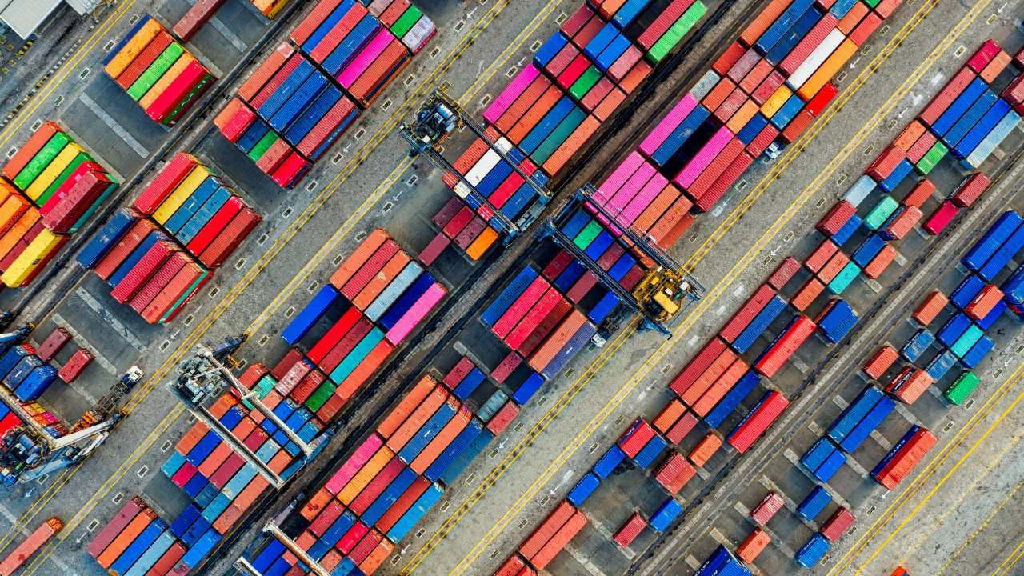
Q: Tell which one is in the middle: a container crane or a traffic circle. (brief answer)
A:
container crane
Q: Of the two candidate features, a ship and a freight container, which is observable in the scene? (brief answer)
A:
freight container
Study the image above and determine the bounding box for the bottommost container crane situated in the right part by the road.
[533,183,706,341]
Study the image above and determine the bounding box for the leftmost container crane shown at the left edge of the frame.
[0,380,127,482]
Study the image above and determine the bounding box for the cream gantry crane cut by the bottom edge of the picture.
[230,482,334,576]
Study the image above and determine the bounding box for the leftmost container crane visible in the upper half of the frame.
[399,86,556,250]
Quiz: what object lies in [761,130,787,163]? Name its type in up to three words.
truck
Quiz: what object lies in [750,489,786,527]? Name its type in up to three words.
shipping container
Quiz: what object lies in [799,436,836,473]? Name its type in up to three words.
shipping container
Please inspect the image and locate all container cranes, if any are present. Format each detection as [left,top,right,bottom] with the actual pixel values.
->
[162,325,350,489]
[399,86,556,250]
[230,482,334,576]
[533,183,706,341]
[0,380,127,482]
